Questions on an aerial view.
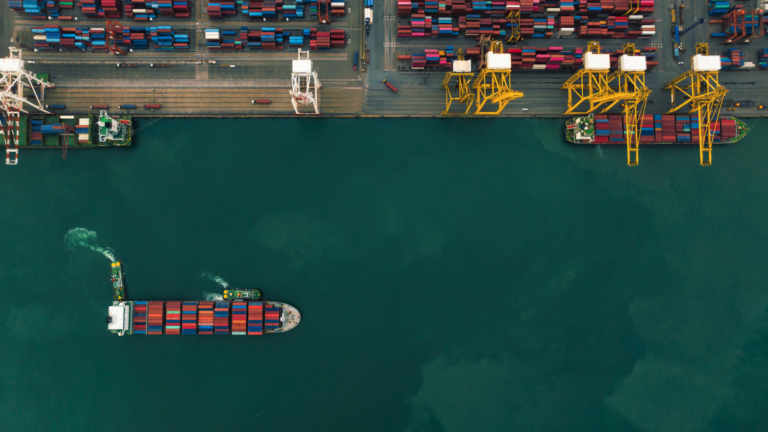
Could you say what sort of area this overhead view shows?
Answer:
port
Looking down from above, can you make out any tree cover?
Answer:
No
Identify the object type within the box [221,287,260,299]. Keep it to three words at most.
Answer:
boat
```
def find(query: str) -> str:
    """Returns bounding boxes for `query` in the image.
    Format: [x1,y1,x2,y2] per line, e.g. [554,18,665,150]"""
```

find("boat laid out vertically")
[110,260,125,299]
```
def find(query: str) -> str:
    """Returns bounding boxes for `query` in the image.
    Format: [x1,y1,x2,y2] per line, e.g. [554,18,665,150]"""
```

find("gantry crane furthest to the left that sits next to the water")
[0,40,58,166]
